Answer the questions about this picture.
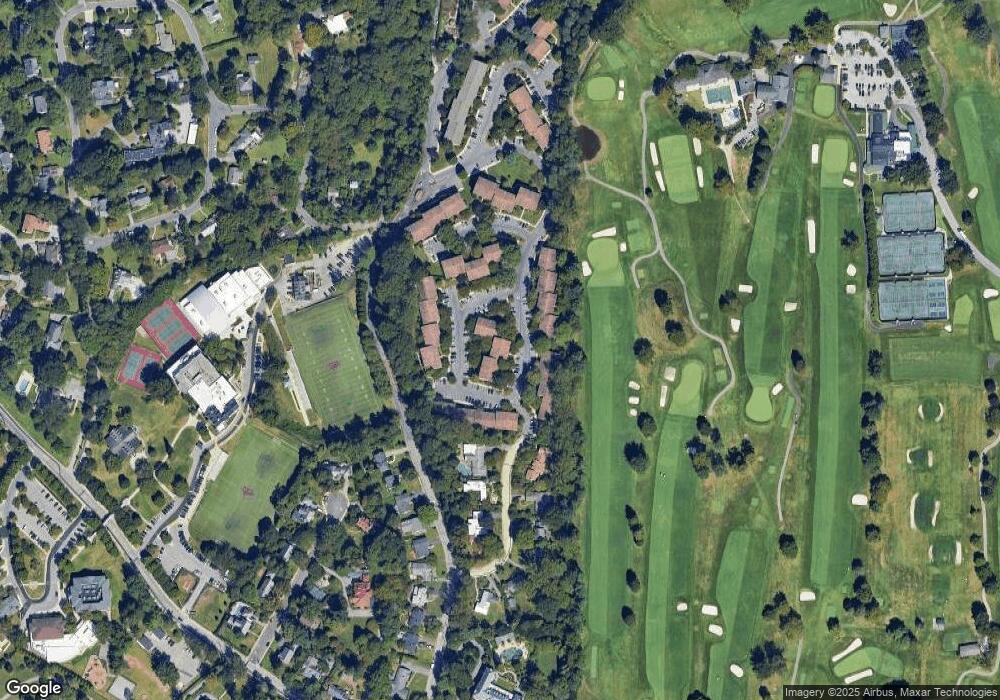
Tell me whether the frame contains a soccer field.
Yes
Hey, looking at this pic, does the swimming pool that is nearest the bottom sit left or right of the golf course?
on its left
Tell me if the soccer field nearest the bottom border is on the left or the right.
left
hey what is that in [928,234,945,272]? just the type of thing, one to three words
tennis court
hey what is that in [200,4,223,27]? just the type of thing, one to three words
house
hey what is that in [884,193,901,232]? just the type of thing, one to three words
tennis court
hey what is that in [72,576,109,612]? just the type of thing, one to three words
building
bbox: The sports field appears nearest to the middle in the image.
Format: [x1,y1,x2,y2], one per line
[285,294,384,432]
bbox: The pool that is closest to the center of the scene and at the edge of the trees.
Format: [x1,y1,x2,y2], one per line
[458,455,474,476]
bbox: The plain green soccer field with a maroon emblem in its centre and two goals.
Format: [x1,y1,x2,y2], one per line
[191,423,300,551]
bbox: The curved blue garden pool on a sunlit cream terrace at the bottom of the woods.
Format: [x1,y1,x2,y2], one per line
[497,641,528,664]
